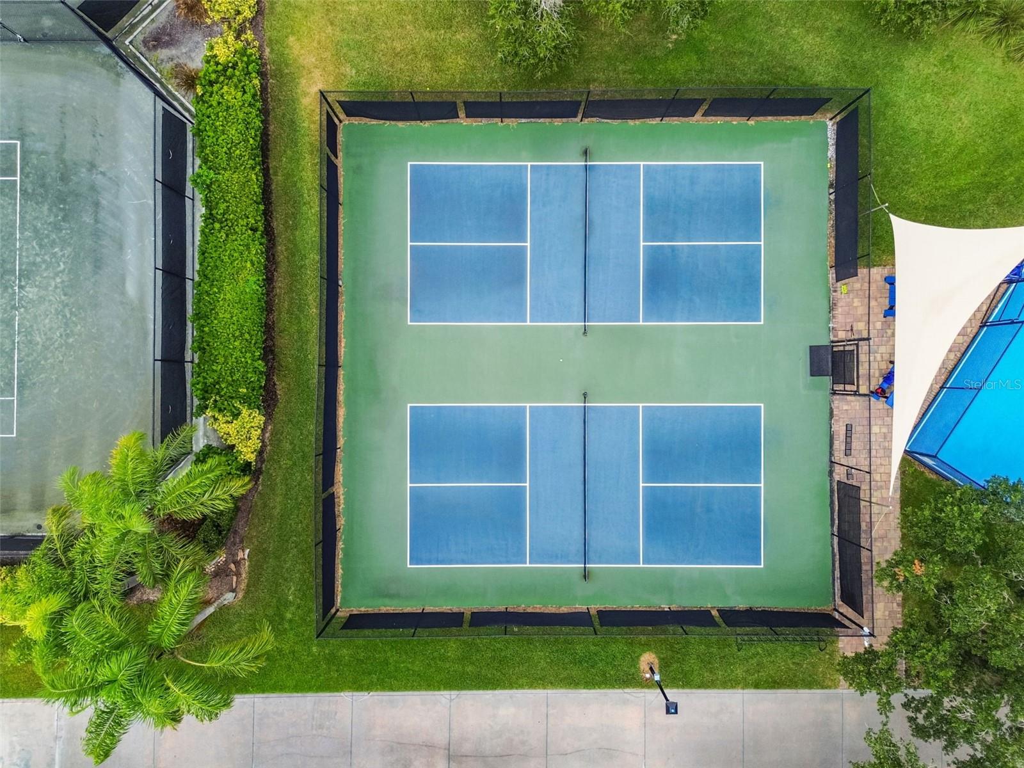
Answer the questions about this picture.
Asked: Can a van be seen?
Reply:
No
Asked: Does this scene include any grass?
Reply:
Yes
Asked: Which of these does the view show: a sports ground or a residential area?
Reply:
sports ground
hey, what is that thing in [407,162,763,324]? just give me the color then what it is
blue sports court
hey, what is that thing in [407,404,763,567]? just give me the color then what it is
blue sports court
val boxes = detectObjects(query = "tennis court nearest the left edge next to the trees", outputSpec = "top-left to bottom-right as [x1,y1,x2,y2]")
[0,0,193,539]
